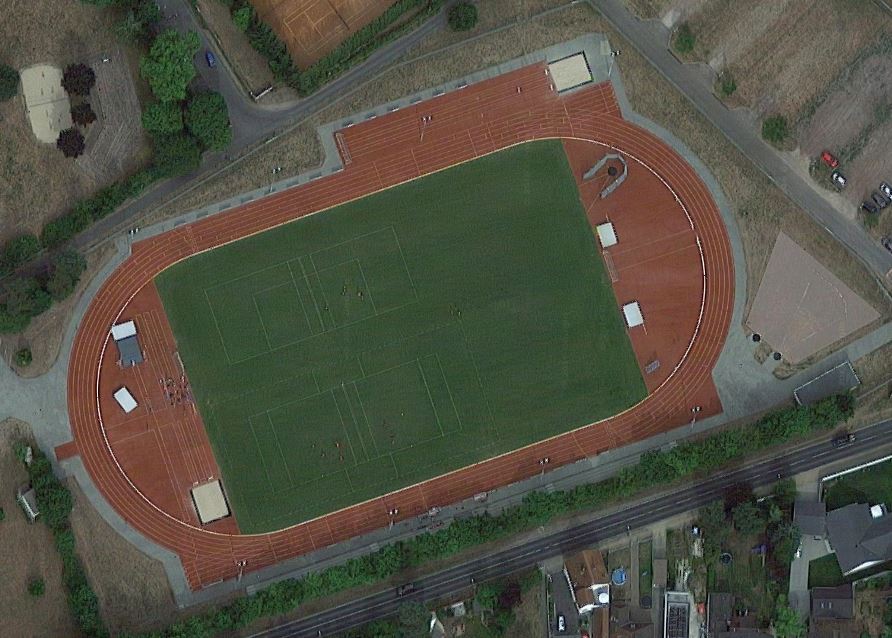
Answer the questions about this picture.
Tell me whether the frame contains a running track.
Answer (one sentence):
Yes, this view includes a running track.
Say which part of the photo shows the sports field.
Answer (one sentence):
The sports field sits in the center section of the image.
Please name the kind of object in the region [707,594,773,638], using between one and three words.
house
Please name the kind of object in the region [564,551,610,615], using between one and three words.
house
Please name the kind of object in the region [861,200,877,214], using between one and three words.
vehicle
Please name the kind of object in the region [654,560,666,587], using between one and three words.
shed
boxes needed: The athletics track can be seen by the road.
[54,60,734,592]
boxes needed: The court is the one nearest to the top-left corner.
[21,65,71,143]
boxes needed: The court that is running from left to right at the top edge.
[253,0,413,71]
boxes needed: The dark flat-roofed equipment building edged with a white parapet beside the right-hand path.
[794,362,860,414]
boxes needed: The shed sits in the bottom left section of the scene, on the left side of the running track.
[18,485,38,519]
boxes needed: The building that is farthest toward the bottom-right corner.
[813,586,853,638]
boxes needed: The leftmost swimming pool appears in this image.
[611,569,628,587]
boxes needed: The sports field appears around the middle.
[142,139,647,533]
